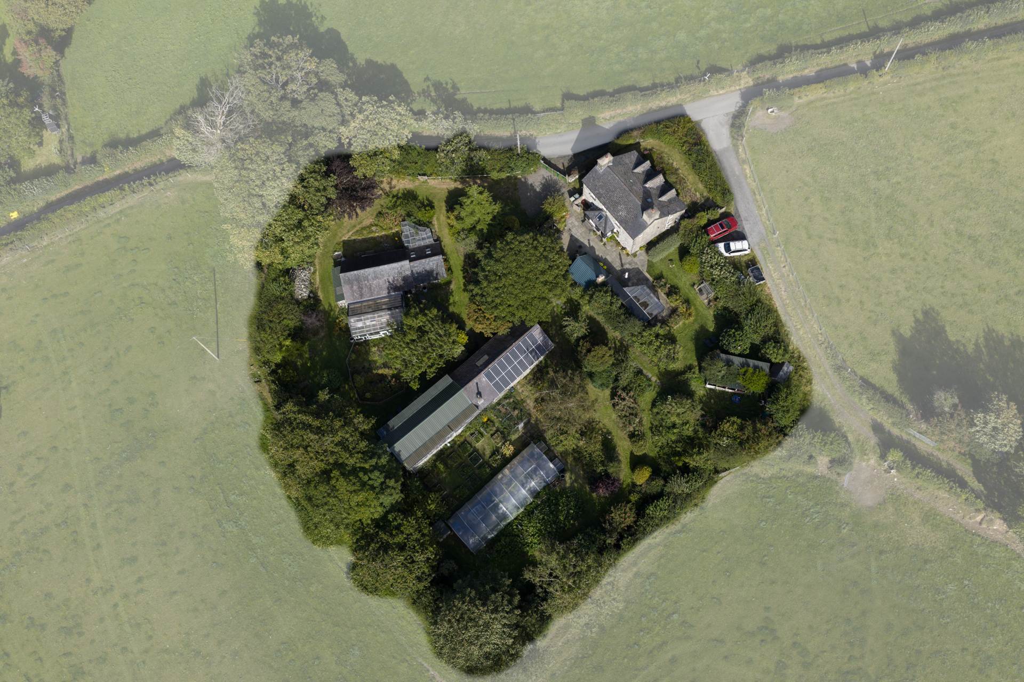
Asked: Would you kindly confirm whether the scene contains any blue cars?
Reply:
No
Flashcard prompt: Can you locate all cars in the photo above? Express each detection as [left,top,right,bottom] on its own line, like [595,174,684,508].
[716,239,751,257]
[704,216,738,238]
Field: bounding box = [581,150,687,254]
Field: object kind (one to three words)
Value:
house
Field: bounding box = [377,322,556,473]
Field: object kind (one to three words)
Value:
barn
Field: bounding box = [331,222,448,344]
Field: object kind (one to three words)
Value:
building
